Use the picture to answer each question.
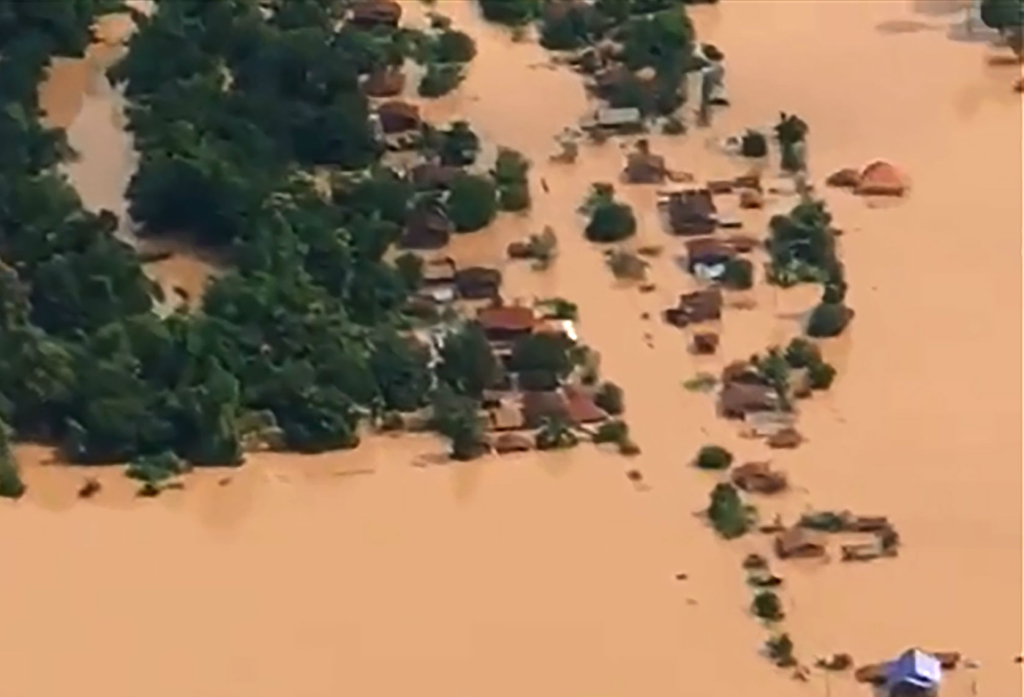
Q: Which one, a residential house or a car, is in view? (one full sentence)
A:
This aerial view contains a residential house.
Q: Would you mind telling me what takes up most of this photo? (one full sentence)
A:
For the most part, this view shows water.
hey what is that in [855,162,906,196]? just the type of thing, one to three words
house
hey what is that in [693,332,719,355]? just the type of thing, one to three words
shed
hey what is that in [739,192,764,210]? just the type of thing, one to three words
shed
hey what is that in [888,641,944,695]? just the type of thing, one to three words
house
